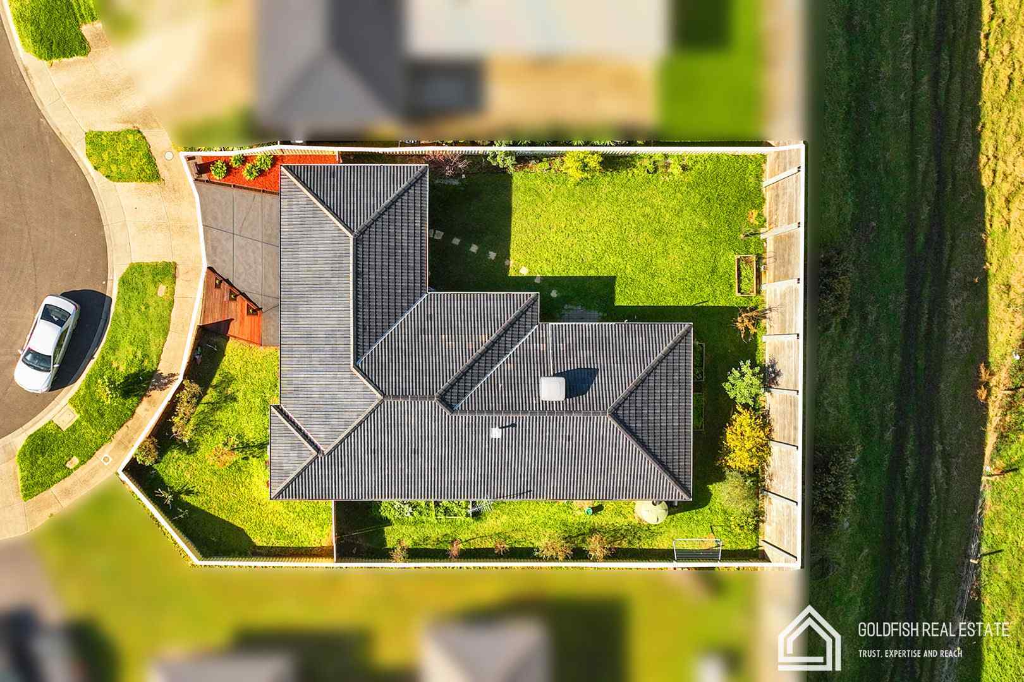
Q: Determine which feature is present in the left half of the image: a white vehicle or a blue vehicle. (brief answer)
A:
white vehicle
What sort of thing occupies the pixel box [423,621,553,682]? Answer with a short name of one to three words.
house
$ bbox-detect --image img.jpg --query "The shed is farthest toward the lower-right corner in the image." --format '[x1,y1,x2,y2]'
[694,654,734,682]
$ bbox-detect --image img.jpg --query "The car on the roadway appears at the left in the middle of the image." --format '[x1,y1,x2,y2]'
[19,295,80,395]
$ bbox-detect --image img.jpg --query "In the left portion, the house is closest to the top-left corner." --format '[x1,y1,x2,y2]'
[254,0,406,125]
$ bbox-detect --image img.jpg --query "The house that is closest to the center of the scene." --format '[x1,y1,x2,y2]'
[267,161,695,503]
